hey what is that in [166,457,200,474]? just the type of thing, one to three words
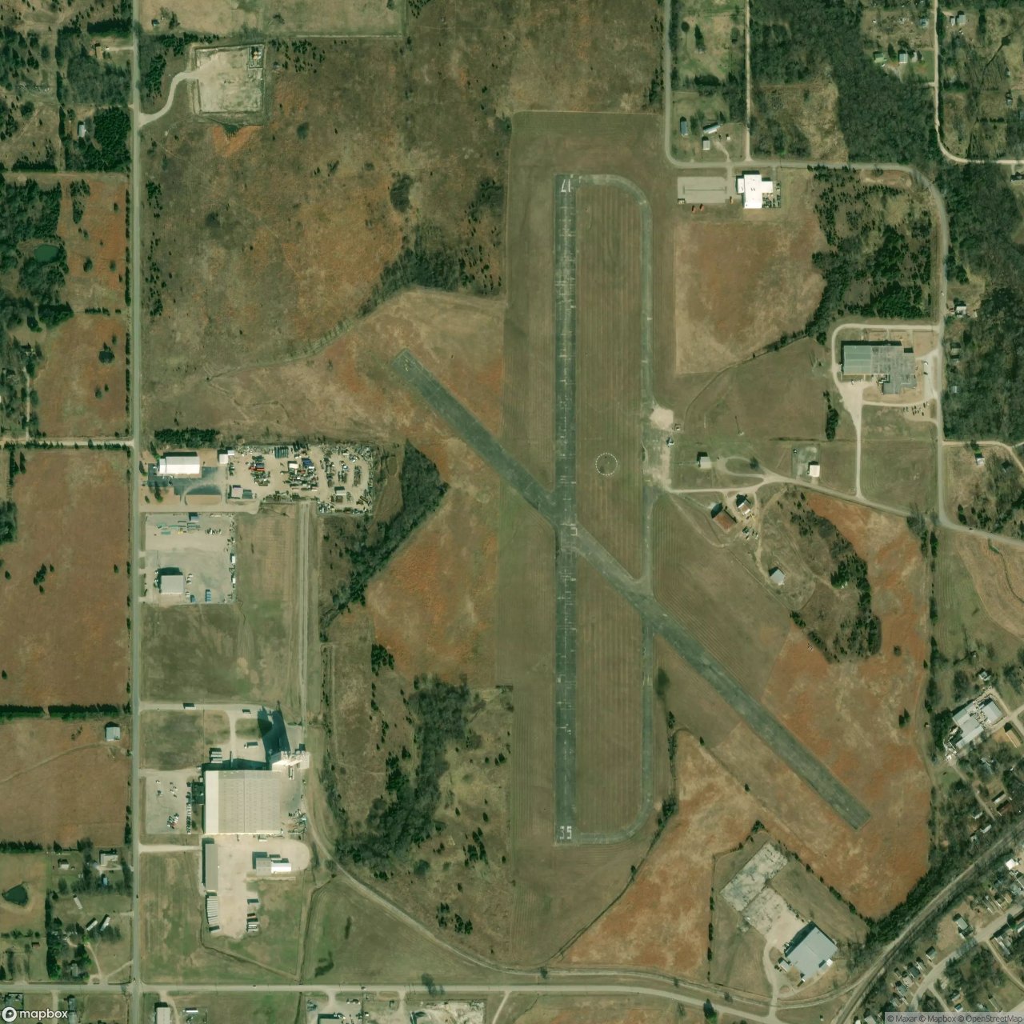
building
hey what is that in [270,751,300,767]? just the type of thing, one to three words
building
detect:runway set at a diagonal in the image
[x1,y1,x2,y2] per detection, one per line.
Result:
[390,350,872,830]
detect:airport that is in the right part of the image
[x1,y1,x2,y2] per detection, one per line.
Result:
[390,174,872,845]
